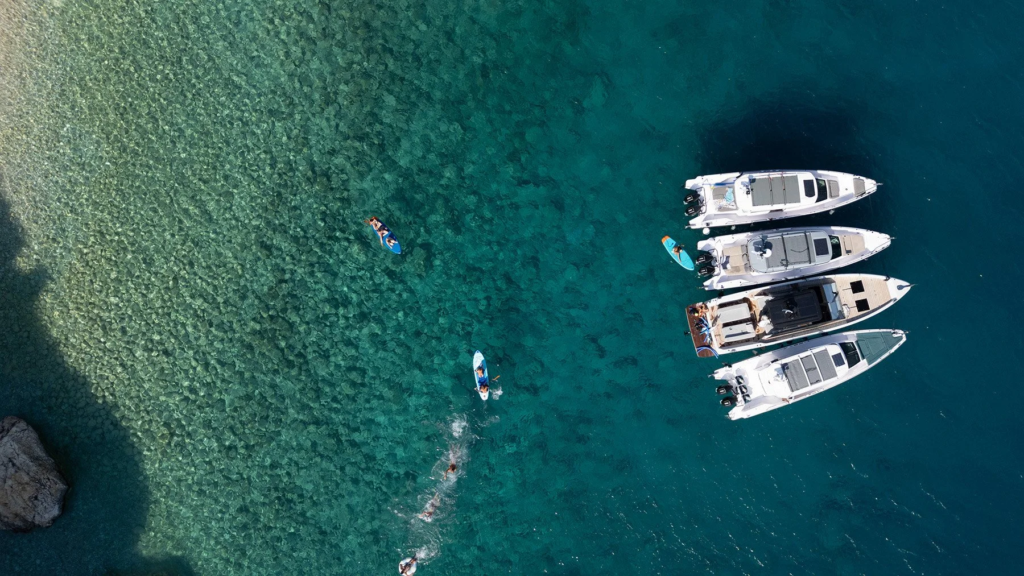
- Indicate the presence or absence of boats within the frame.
Yes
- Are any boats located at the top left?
No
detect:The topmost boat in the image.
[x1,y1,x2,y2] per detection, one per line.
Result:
[680,170,886,232]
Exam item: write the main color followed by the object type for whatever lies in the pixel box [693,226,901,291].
white boat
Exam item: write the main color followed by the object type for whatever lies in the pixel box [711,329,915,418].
white boat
